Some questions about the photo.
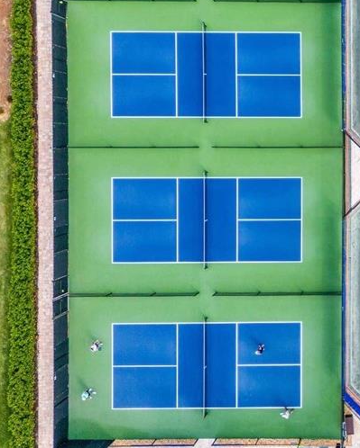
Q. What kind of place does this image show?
sports ground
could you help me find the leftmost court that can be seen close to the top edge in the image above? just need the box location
[66,0,339,147]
